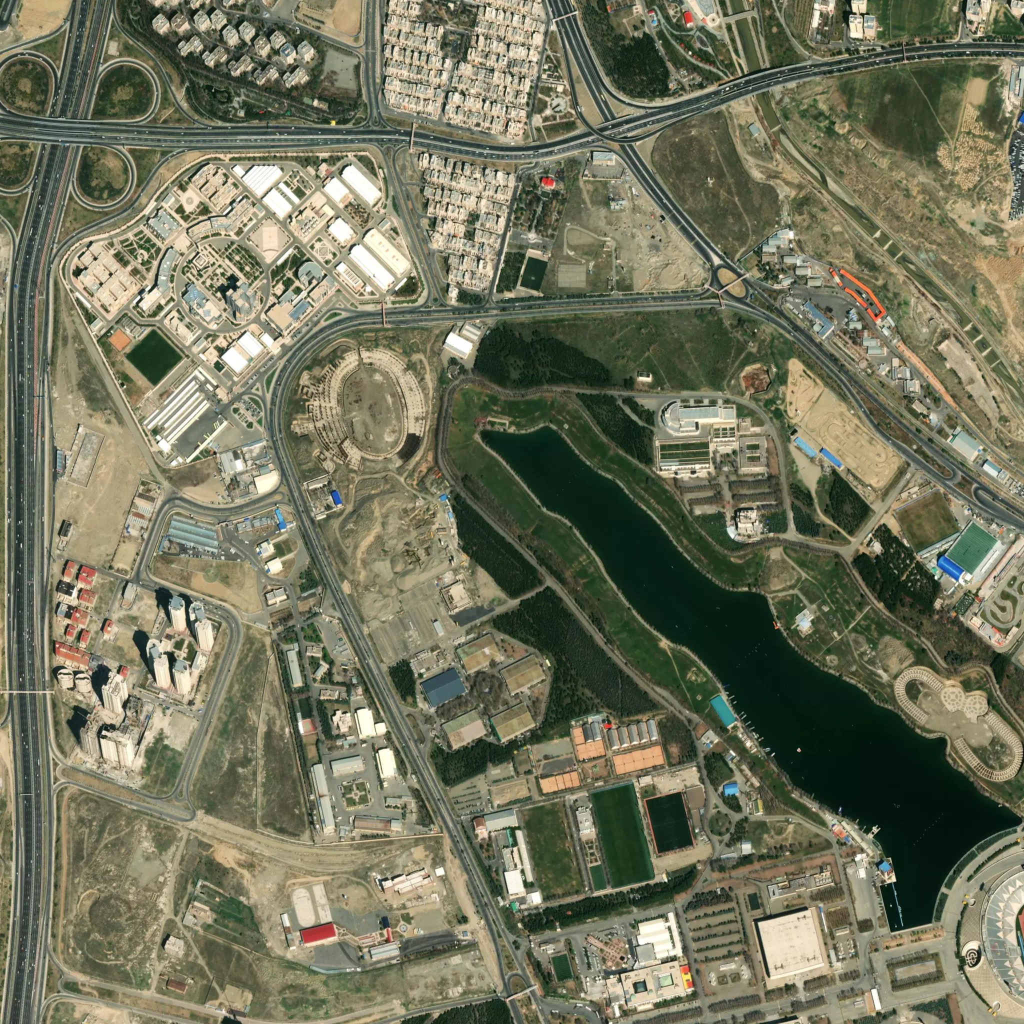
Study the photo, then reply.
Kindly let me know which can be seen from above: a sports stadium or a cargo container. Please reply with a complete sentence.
The image shows a sports stadium.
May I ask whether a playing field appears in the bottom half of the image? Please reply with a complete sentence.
Yes, a playing field is visible in the bottom half of the image.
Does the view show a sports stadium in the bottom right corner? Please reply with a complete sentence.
Yes, a sports stadium shows up in the bottom right corner.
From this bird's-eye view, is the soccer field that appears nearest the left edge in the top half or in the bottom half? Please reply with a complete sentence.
It is in the top half that the soccer field that appears nearest the left edge appears.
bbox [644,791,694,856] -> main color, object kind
black soccer field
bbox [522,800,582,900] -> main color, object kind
green sports field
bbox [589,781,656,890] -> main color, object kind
green soccer field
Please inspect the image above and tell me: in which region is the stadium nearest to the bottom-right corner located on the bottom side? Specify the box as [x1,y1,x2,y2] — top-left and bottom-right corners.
[980,863,1024,998]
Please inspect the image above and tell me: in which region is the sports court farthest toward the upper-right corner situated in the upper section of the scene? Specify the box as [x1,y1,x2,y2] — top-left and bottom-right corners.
[558,265,586,287]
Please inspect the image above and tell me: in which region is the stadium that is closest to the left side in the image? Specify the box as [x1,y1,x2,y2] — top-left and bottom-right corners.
[316,344,425,473]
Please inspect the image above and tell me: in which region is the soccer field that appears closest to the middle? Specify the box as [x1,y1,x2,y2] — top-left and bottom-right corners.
[517,250,551,292]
